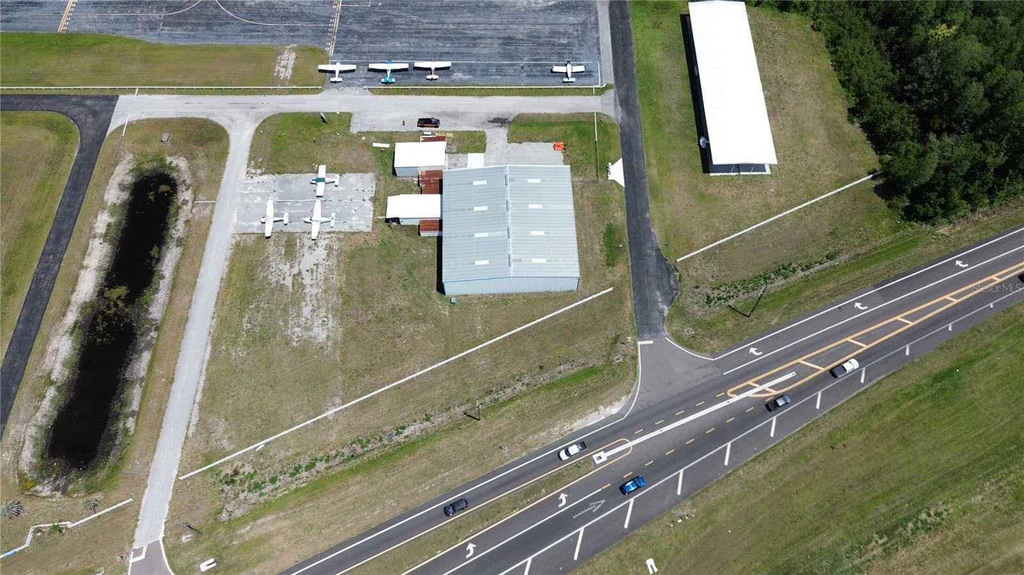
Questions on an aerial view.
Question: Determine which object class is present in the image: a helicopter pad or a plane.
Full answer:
It is a plane that can be seen here.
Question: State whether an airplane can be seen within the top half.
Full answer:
Yes, looking within the top half, one can make out an airplane.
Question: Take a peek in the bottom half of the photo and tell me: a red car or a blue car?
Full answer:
Visible in the bottom half of the photo is a blue car.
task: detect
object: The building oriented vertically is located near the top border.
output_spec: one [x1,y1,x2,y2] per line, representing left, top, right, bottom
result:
[686,0,777,175]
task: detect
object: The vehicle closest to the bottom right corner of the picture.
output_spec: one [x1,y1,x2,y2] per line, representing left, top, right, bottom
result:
[833,359,860,377]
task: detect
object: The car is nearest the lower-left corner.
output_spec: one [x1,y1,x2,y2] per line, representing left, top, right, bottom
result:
[444,499,469,517]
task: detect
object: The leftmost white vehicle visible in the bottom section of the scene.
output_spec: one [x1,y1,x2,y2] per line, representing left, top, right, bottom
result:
[558,441,588,460]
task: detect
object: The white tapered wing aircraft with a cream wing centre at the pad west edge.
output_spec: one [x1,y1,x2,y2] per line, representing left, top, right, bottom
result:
[259,200,291,236]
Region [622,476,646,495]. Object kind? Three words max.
car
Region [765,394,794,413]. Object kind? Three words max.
vehicle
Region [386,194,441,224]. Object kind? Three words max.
shed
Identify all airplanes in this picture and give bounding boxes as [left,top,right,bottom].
[302,200,339,239]
[414,59,451,81]
[259,200,291,236]
[311,165,342,195]
[553,59,586,82]
[369,60,408,83]
[318,62,356,84]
